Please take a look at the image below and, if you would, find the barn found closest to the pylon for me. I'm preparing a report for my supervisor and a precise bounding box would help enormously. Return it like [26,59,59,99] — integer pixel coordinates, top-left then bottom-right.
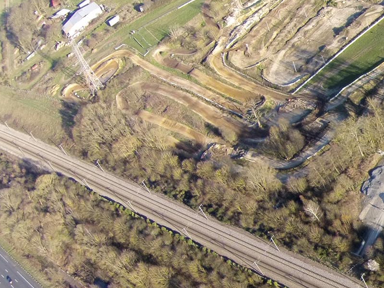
[62,2,105,43]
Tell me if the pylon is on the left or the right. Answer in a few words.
left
